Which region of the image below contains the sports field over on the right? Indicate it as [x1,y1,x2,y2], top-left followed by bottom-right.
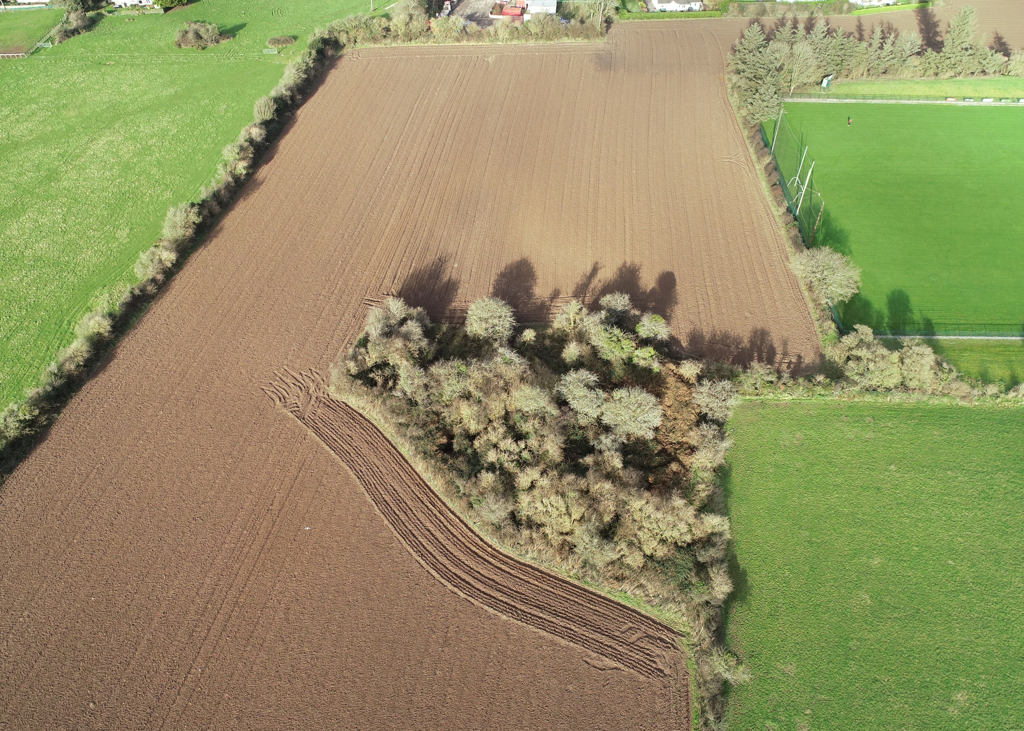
[762,103,1024,337]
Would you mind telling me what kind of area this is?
farmland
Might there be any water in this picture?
No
